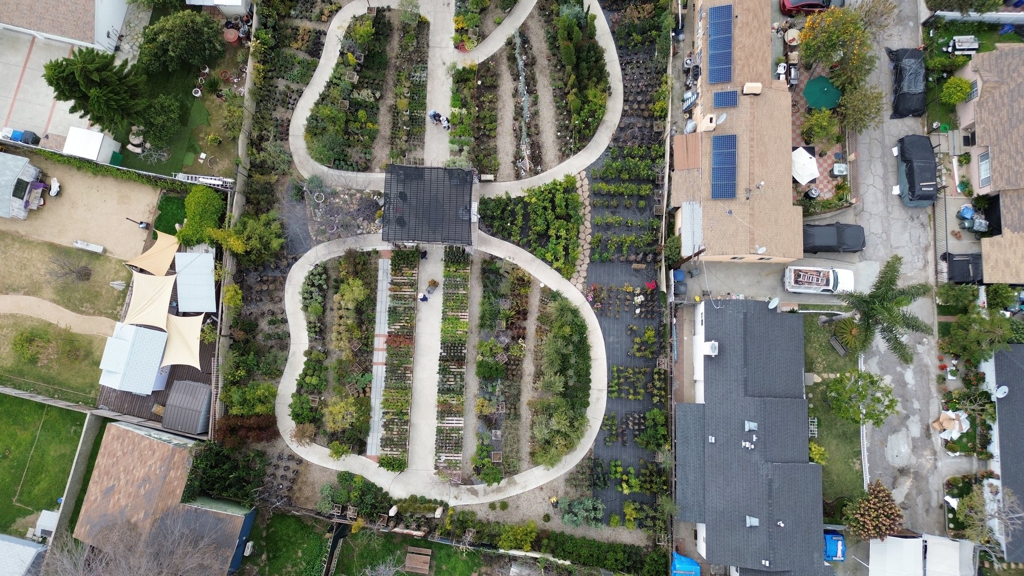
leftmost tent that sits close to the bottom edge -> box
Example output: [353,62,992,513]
[852,530,923,576]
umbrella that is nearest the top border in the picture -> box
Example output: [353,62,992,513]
[802,75,840,112]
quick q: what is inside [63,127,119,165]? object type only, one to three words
shed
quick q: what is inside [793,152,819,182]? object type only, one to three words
umbrella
